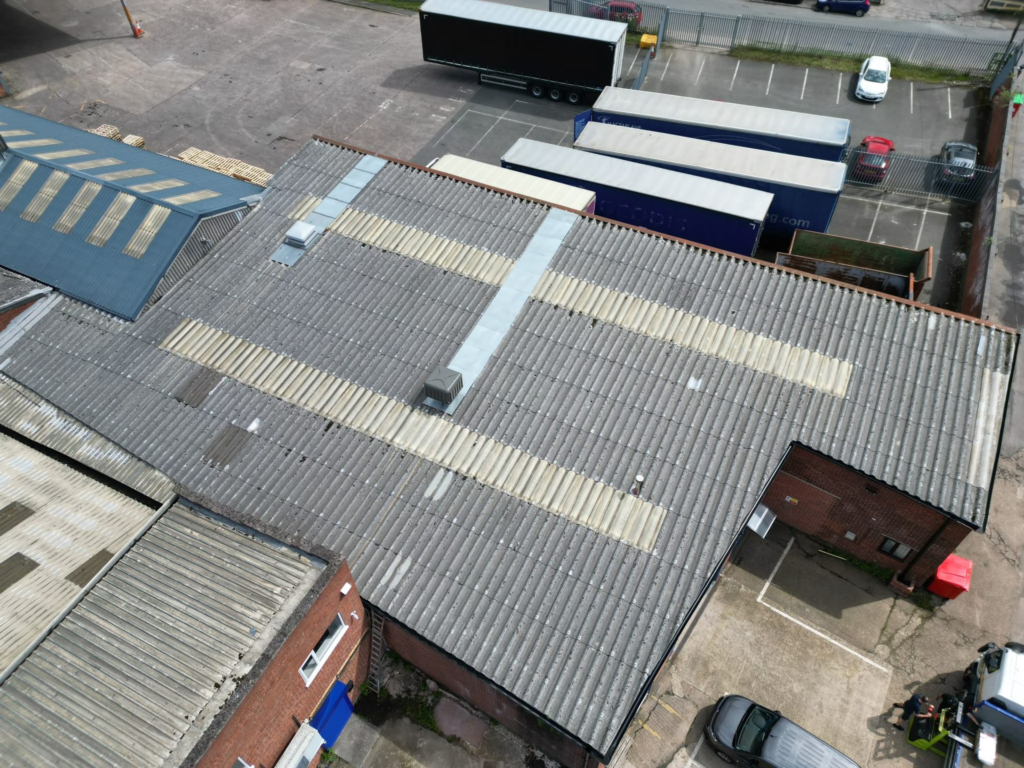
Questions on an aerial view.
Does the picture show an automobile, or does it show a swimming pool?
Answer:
automobile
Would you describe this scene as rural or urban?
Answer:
urban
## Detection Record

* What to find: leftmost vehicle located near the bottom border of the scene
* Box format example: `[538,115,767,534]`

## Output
[694,698,840,768]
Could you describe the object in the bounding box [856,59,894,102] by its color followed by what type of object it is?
white car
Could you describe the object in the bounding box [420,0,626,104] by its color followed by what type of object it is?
black trailer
